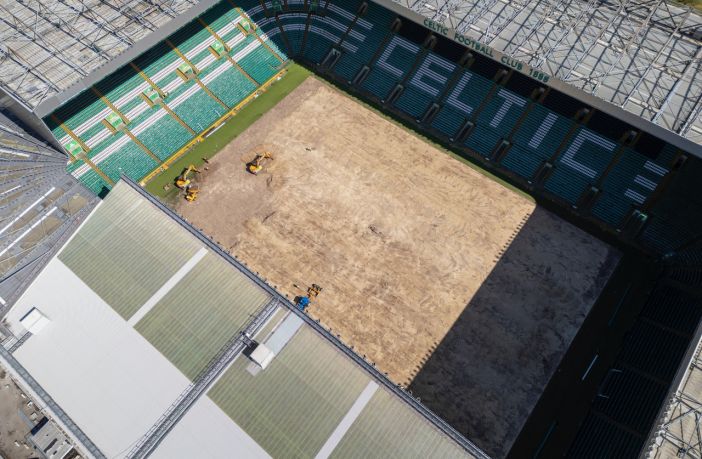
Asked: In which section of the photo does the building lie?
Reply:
bottom left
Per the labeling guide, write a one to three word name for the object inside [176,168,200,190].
work vehicle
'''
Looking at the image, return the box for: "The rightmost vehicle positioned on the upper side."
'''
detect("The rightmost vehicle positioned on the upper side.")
[250,152,274,173]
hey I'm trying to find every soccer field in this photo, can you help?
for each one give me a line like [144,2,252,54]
[143,67,651,459]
